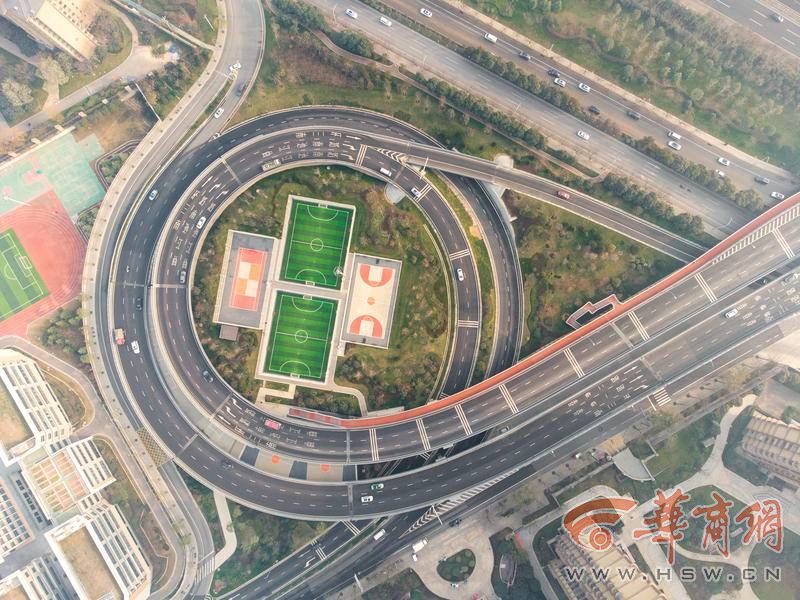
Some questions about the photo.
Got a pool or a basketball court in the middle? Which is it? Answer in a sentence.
There is a basketball court in the middle.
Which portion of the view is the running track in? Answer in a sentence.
The running track appears toward the left of the photo.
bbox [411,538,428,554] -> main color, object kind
white vehicle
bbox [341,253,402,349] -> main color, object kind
white basketball court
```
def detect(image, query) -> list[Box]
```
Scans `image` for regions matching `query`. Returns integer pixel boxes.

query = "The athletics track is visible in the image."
[0,189,88,346]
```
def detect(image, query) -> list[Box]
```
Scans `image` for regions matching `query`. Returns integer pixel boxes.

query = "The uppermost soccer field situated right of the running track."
[279,199,353,292]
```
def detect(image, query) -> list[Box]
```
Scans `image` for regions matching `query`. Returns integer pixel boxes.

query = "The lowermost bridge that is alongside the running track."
[151,126,800,466]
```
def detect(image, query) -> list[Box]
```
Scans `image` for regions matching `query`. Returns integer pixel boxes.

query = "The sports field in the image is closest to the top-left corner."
[0,229,48,320]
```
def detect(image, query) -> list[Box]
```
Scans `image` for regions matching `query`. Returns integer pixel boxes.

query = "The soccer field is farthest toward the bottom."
[264,291,338,382]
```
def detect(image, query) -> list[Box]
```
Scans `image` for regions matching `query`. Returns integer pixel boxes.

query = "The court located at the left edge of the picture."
[0,133,112,214]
